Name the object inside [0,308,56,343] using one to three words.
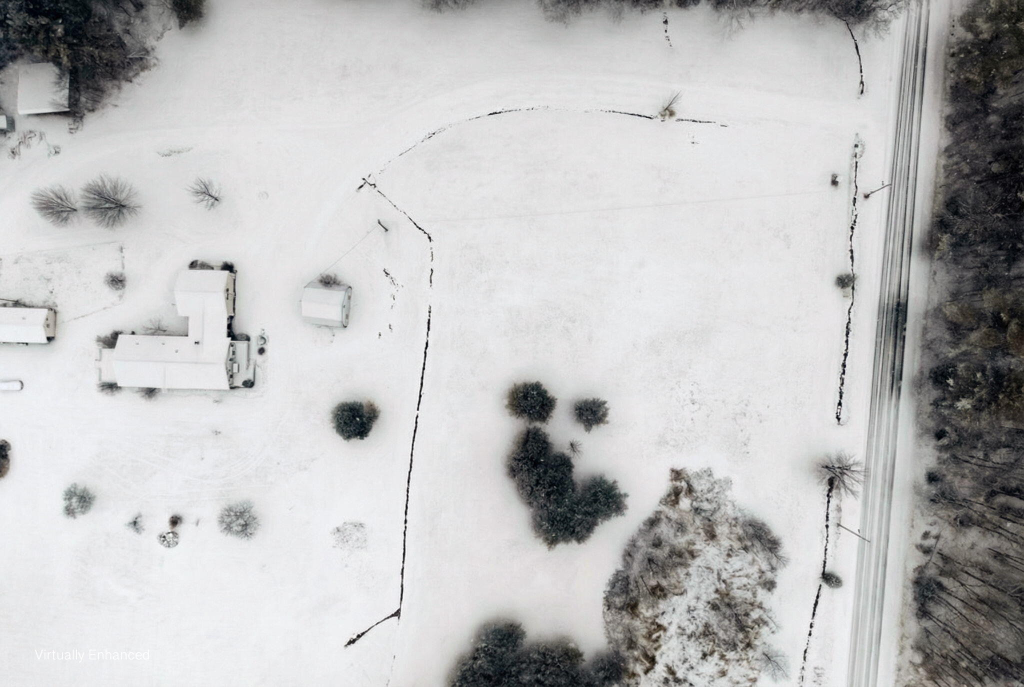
house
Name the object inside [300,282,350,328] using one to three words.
barn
